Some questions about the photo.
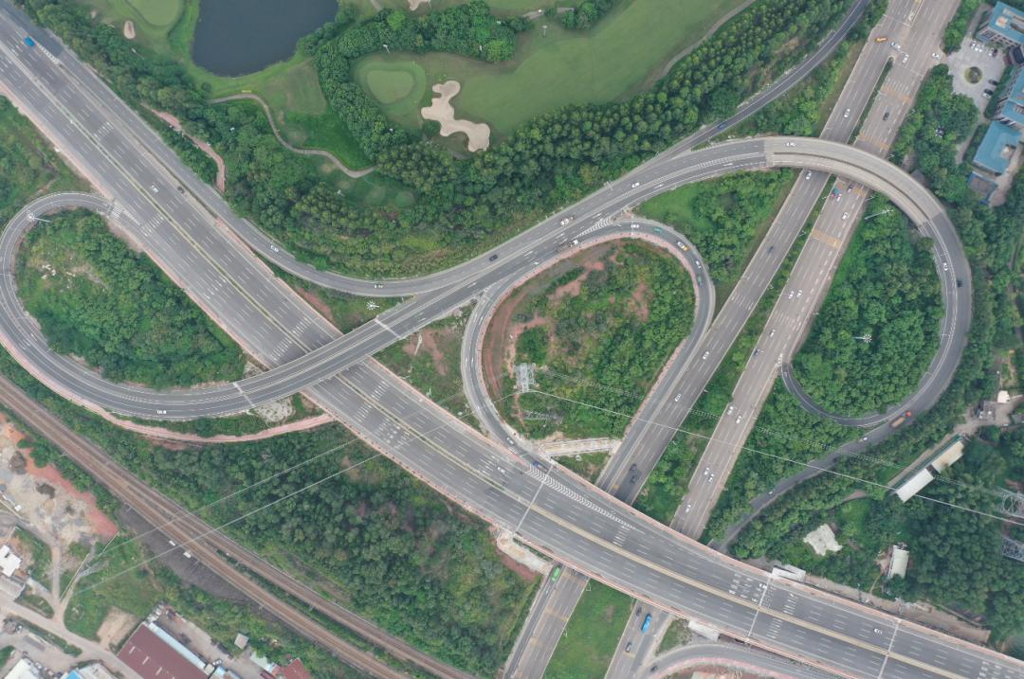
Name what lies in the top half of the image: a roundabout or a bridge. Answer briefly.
bridge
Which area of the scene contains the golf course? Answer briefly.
top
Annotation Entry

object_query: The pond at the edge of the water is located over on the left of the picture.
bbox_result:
[191,0,338,76]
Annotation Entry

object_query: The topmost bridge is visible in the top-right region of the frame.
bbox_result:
[764,136,945,225]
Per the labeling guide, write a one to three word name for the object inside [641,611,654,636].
vehicle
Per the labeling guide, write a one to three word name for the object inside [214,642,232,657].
vehicle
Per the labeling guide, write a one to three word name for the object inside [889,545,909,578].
house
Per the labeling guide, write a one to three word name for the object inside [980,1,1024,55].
building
